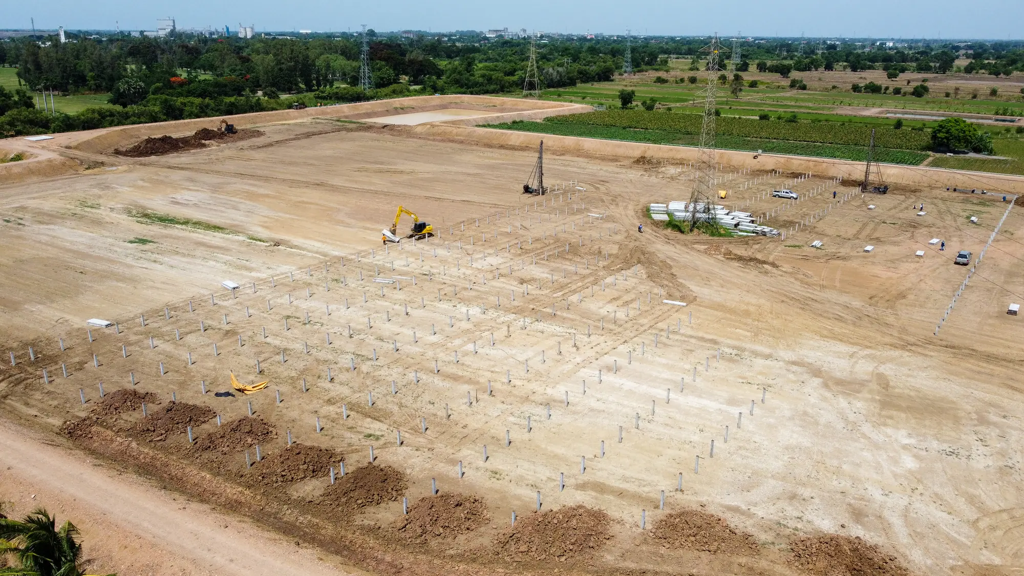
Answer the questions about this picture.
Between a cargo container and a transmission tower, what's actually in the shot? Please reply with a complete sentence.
I can see a transmission tower in this picture.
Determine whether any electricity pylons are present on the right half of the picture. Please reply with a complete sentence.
Yes, I can see an electricity pylon on the right half of the picture.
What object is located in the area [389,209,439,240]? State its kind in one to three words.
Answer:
work vehicle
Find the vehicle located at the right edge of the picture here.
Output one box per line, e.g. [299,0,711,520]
[955,250,974,266]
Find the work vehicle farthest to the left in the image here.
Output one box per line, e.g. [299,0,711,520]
[209,116,236,133]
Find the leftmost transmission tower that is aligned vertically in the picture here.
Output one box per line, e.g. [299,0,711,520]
[353,23,370,87]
